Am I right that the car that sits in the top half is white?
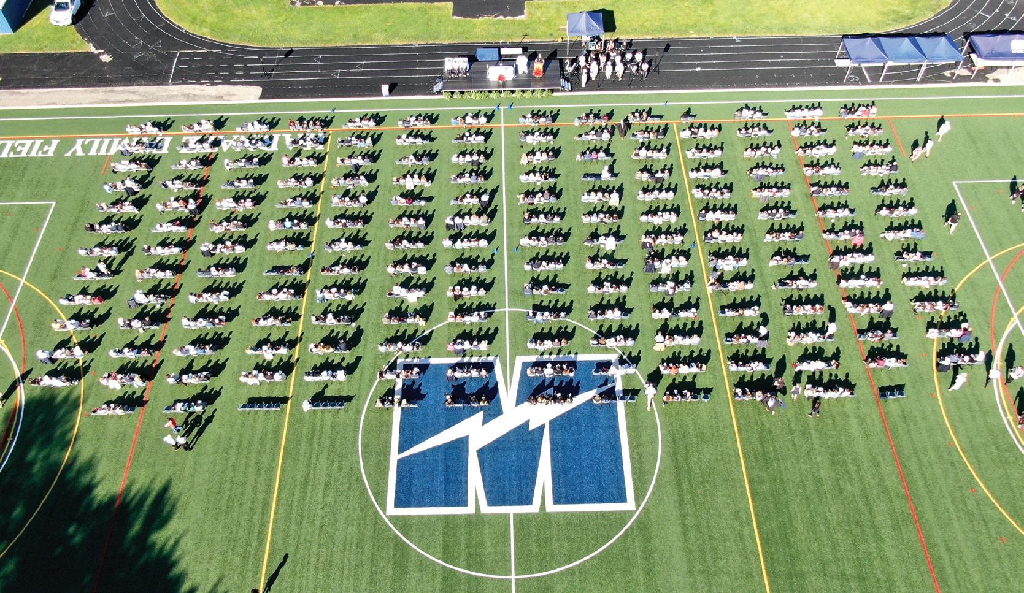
Yes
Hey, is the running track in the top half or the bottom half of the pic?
top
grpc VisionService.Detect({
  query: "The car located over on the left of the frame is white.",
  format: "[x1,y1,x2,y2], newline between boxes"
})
[50,0,83,24]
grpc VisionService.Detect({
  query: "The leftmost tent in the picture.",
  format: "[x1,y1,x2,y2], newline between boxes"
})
[565,13,605,55]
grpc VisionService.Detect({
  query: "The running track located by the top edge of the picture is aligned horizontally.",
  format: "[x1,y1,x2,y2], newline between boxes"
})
[0,0,1024,105]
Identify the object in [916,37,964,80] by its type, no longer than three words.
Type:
tent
